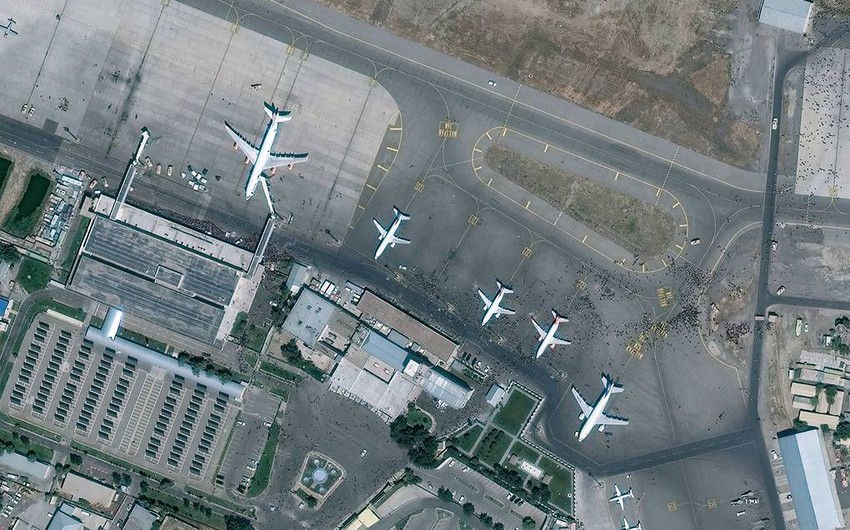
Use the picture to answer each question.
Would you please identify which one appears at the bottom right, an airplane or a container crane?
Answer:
airplane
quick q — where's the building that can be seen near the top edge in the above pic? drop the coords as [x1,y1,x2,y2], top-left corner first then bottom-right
[759,0,813,32]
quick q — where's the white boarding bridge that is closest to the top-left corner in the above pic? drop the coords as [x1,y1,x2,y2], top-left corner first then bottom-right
[110,129,151,219]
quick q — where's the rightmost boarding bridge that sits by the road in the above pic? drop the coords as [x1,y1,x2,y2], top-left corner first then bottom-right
[246,174,277,277]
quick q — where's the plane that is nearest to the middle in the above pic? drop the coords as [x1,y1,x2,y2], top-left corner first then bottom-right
[374,208,411,259]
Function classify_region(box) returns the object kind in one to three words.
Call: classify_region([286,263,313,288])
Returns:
building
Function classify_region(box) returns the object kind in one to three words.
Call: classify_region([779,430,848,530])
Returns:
hangar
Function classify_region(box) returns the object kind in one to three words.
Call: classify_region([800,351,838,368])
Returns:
house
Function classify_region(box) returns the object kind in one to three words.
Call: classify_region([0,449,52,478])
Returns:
building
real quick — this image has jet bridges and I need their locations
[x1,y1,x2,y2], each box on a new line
[110,129,151,219]
[246,174,277,277]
